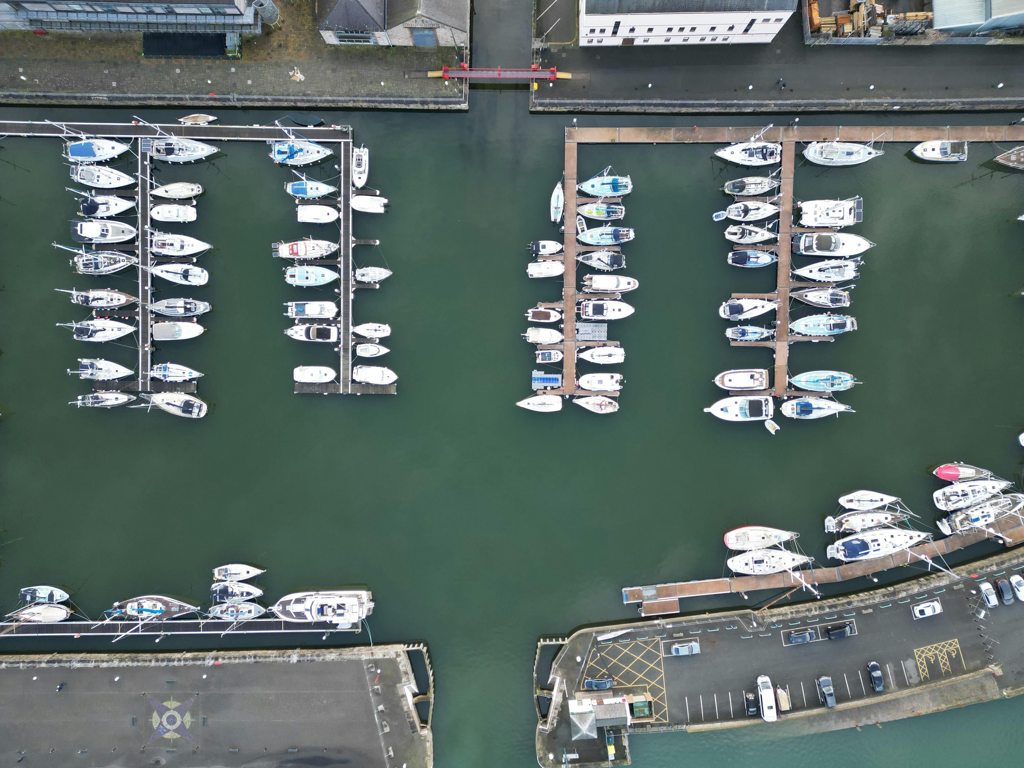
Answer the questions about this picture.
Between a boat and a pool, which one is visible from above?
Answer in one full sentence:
This aerial view contains a boat.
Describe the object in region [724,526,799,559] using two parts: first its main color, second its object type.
white boat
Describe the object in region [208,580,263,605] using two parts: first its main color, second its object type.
white boat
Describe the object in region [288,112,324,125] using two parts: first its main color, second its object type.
blue boat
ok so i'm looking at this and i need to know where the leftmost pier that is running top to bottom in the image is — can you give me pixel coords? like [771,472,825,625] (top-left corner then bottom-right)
[139,138,152,391]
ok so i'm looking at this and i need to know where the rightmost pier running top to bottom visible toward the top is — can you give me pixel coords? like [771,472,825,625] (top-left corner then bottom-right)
[774,141,795,396]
